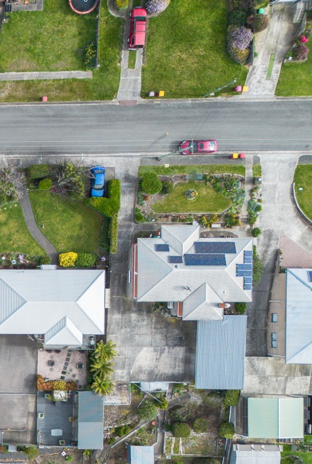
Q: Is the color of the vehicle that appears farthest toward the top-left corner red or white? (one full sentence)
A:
The vehicle that appears farthest toward the top-left corner is red.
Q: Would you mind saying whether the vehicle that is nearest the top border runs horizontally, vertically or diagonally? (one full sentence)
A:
The vehicle that is nearest the top border runs vertically in the image.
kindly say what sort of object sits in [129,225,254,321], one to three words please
house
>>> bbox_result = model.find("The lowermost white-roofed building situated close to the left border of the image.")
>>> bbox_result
[0,264,110,346]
